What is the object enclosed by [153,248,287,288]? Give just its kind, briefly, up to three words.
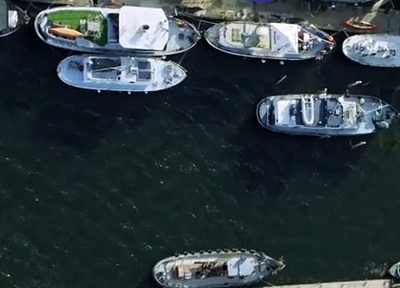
boat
